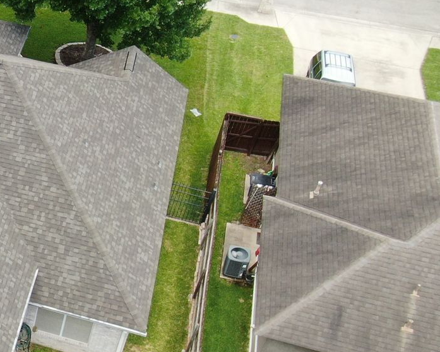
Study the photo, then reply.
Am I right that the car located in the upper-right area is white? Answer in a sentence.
Yes, the car located in the upper-right area is indeed white.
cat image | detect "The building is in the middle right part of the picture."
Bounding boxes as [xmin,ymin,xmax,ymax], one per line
[247,74,440,352]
